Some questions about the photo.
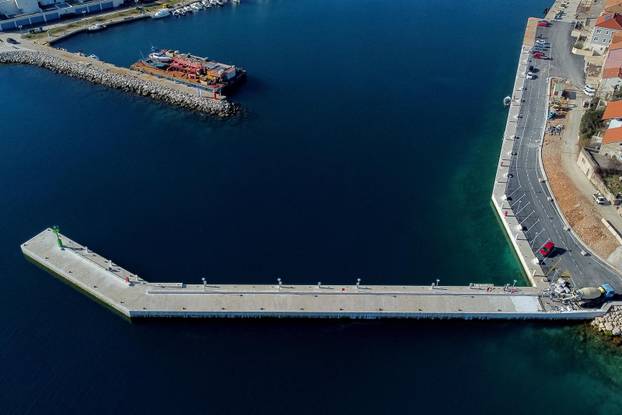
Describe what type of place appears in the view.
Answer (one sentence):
What you see here is a port.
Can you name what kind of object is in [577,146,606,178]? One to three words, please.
shed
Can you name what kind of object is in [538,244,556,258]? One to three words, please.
vehicle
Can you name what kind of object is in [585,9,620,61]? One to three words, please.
house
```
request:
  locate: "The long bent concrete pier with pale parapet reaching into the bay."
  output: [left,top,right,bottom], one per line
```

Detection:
[21,228,622,321]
